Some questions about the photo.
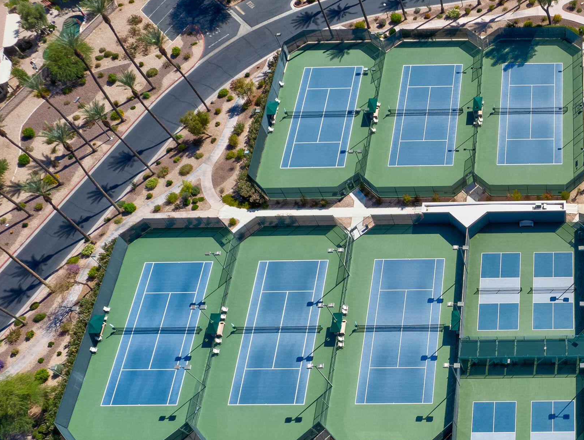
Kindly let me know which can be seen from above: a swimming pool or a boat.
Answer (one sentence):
The image shows a swimming pool.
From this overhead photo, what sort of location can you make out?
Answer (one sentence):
The picture captures a sports ground.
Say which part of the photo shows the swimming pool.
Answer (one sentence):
The swimming pool is in the top left part of the image.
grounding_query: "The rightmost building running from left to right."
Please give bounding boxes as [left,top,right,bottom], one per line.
[422,199,566,239]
